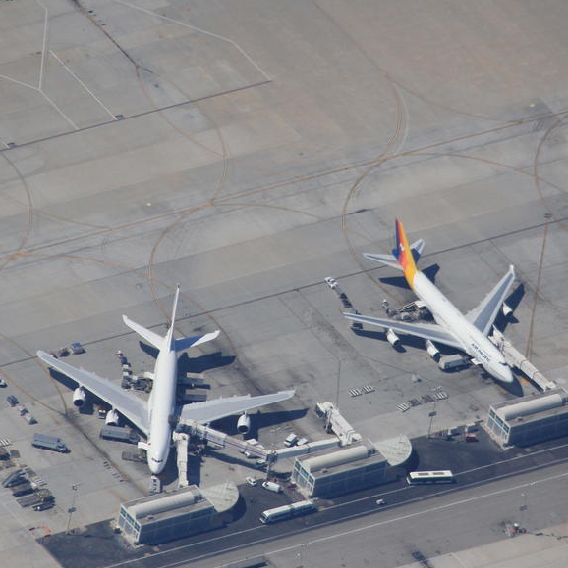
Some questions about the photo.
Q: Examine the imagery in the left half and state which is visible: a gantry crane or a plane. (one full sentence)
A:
You can see a plane in the left half.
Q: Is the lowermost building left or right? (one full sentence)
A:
The lowermost building appears in the left half of the scene.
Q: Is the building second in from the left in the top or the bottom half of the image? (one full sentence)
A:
The bottom half of the photo is where the building second in from the left is.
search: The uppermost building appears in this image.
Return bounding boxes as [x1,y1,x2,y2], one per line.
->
[479,387,568,448]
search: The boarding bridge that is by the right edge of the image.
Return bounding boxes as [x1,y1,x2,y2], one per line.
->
[482,331,560,394]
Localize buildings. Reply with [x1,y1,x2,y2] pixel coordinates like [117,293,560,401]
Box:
[112,478,235,546]
[479,387,568,448]
[284,432,406,500]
